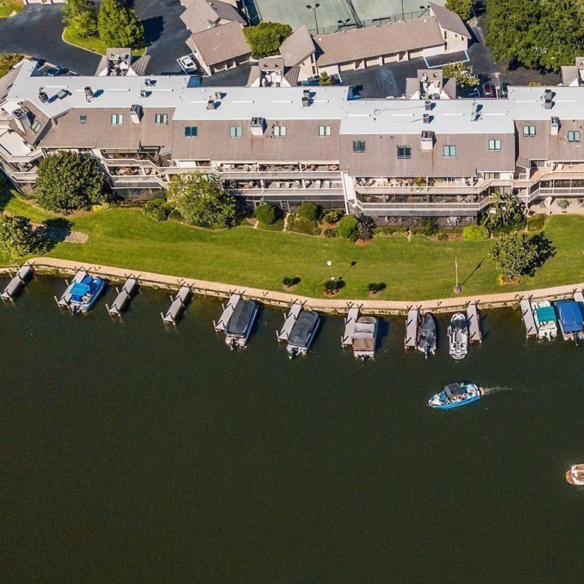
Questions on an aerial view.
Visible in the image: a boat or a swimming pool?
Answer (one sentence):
The one in the frame is a boat.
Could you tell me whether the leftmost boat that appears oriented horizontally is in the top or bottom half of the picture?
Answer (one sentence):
The leftmost boat that appears oriented horizontally sits in the bottom half of the picture.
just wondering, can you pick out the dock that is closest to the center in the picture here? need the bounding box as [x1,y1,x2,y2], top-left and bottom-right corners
[275,301,305,343]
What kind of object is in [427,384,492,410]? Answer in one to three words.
boat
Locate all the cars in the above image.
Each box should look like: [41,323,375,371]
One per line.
[499,73,513,95]
[178,53,195,69]
[482,76,494,94]
[41,61,67,73]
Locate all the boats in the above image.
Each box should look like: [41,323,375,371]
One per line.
[563,462,584,485]
[554,296,583,345]
[447,310,468,363]
[533,297,556,342]
[353,314,377,363]
[427,384,492,410]
[287,309,322,360]
[418,310,437,355]
[226,296,259,350]
[70,274,104,314]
